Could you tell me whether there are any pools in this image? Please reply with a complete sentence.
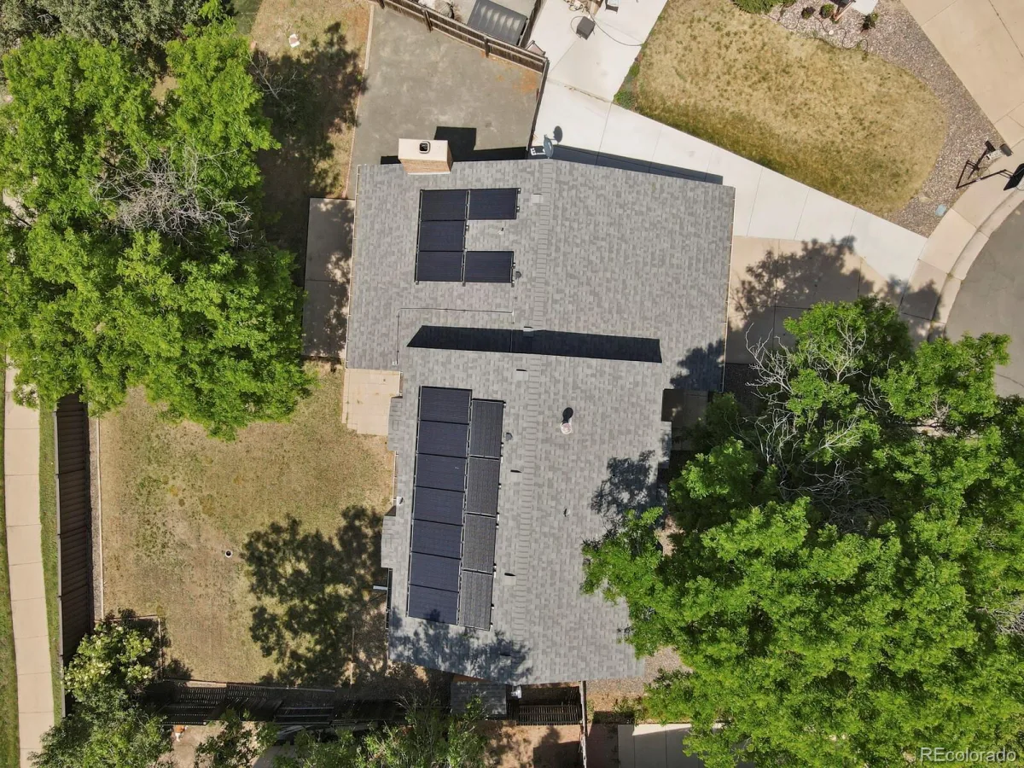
No, no pool is visible in the view.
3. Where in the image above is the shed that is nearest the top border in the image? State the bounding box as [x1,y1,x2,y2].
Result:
[468,0,527,47]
